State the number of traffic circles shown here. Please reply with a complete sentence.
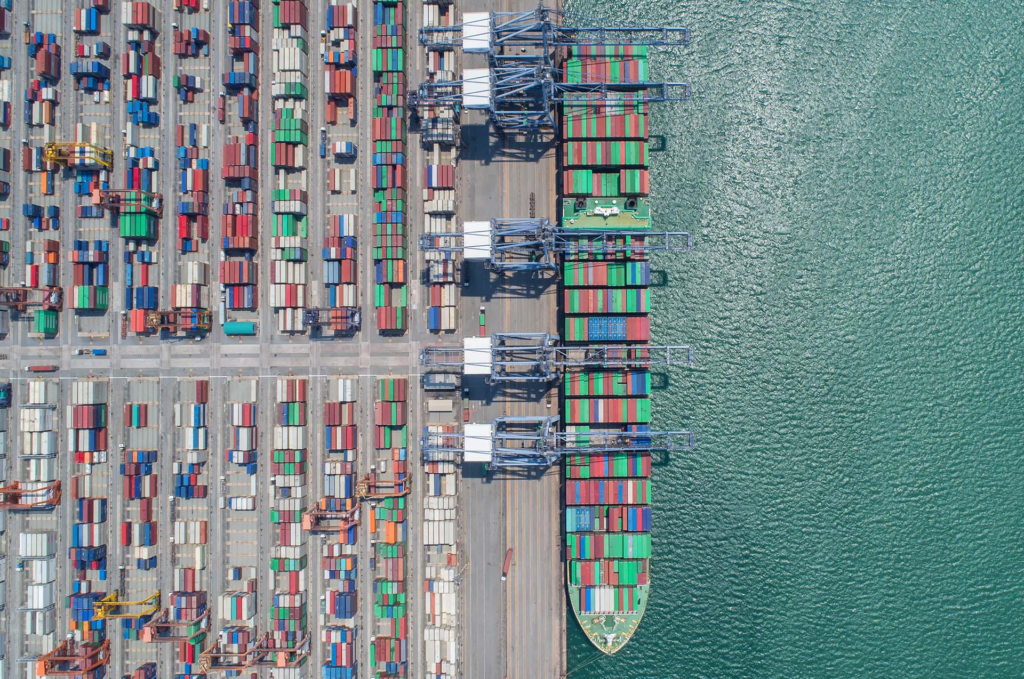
The count of traffic circles is 0.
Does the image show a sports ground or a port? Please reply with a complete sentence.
What you see here is a port.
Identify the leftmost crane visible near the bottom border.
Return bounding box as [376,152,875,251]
[31,639,108,678]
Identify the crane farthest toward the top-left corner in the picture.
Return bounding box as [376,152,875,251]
[39,141,111,172]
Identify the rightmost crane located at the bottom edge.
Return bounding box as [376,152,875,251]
[250,631,309,669]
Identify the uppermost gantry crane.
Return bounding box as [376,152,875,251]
[413,0,690,89]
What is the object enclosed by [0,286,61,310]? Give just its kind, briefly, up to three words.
crane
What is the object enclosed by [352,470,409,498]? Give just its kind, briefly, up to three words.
crane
